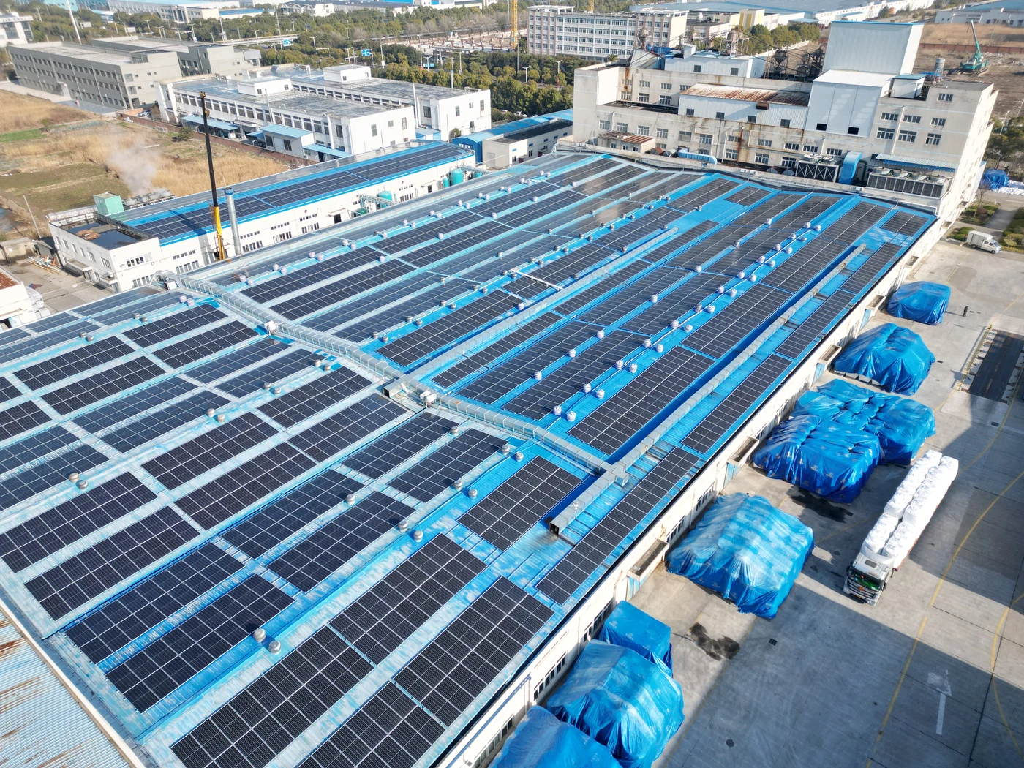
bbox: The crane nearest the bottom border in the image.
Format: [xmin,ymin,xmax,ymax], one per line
[200,88,224,260]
